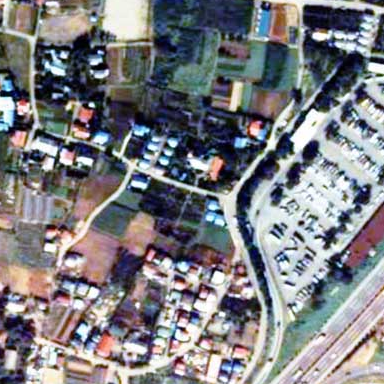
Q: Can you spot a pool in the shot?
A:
No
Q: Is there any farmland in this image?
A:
Yes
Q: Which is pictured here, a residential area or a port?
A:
residential area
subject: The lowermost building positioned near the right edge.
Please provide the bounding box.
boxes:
[344,208,384,268]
